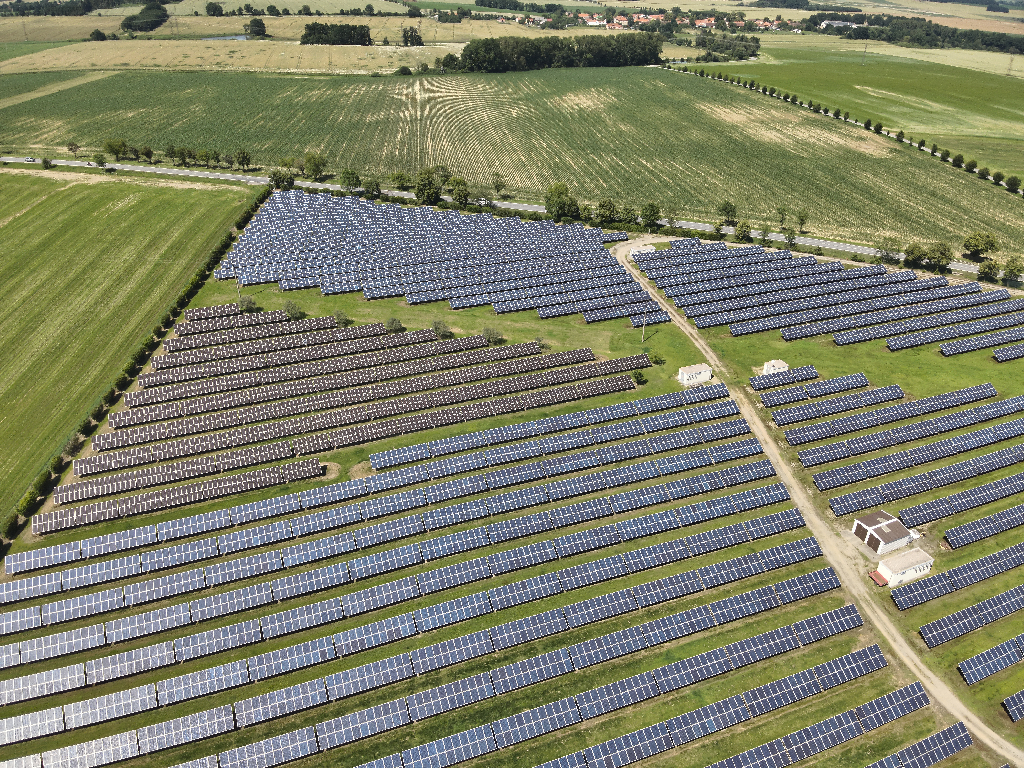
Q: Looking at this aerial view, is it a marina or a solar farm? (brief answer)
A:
solar farm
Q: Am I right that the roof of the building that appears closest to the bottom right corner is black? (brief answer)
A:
No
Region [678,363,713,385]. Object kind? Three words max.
building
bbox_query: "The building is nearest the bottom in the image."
[876,546,937,588]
